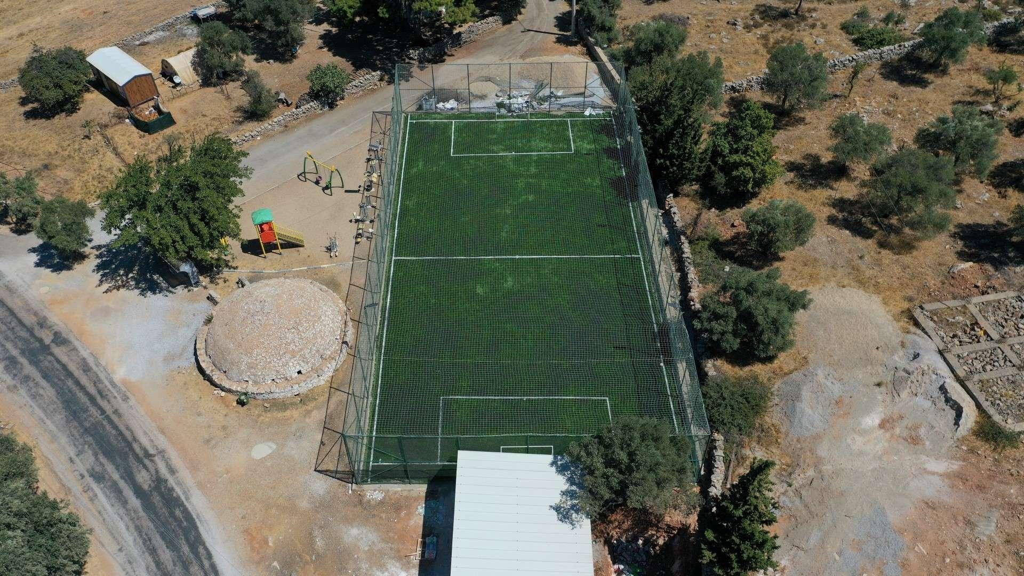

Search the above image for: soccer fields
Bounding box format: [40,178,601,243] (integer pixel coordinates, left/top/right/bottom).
[353,109,709,493]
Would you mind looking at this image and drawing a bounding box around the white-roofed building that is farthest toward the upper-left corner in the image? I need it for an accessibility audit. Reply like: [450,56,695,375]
[88,49,161,110]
